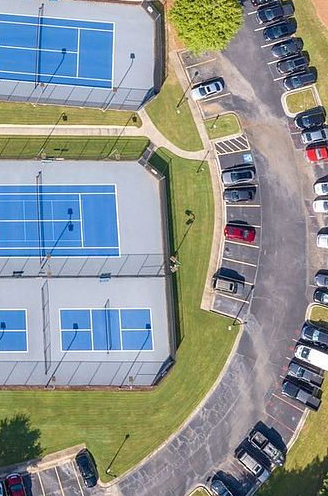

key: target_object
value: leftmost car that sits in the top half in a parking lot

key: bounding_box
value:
[191,81,224,98]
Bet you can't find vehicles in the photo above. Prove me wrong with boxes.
[75,450,96,488]
[258,2,299,23]
[191,81,224,98]
[262,21,296,38]
[246,431,287,466]
[211,278,243,294]
[270,39,304,56]
[237,451,271,481]
[293,344,328,371]
[313,272,328,286]
[249,0,275,6]
[299,128,328,143]
[299,323,328,347]
[222,226,256,241]
[292,111,327,128]
[7,468,24,496]
[282,360,328,391]
[303,143,328,159]
[210,476,236,496]
[220,170,256,185]
[310,290,328,306]
[272,53,314,74]
[313,179,328,195]
[312,199,328,214]
[315,234,328,248]
[222,187,257,202]
[282,70,317,88]
[277,380,322,413]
